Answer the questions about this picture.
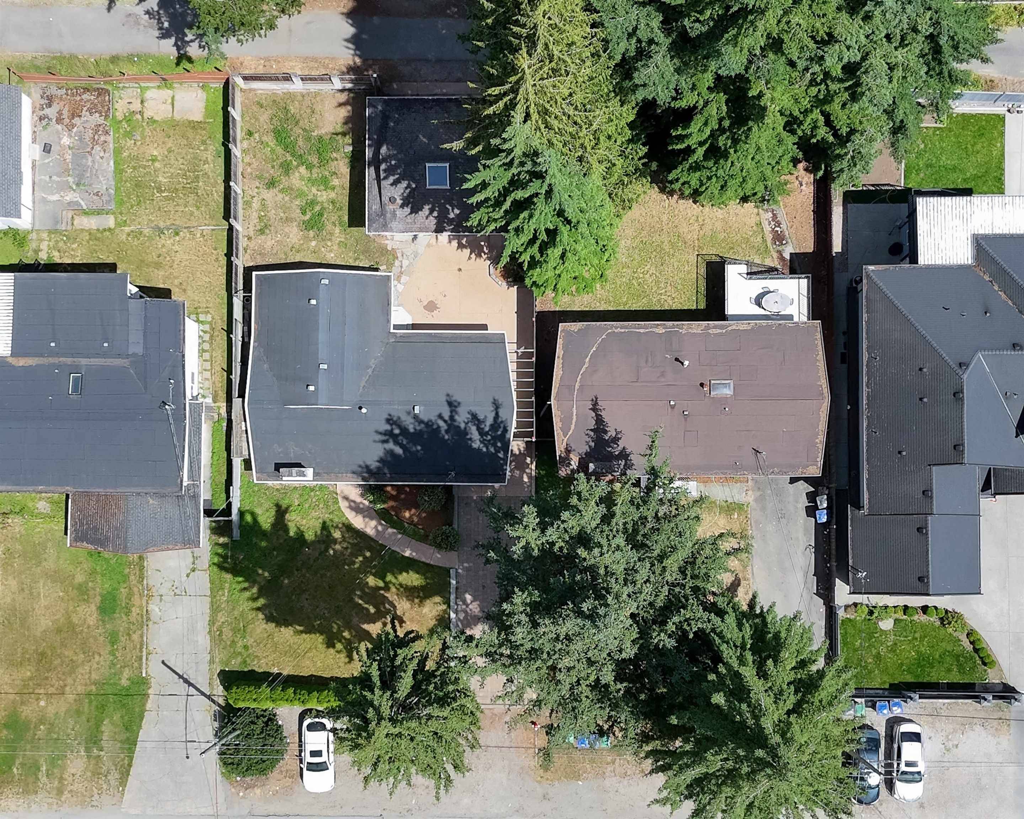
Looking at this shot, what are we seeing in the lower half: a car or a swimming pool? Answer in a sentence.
Visible in the lower half is a car.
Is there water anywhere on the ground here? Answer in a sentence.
No, the picture contains no water.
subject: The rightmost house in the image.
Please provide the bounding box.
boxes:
[846,234,1024,595]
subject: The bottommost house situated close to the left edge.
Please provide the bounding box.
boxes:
[0,273,204,555]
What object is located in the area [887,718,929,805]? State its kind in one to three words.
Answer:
car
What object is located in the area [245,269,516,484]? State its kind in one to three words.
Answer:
house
